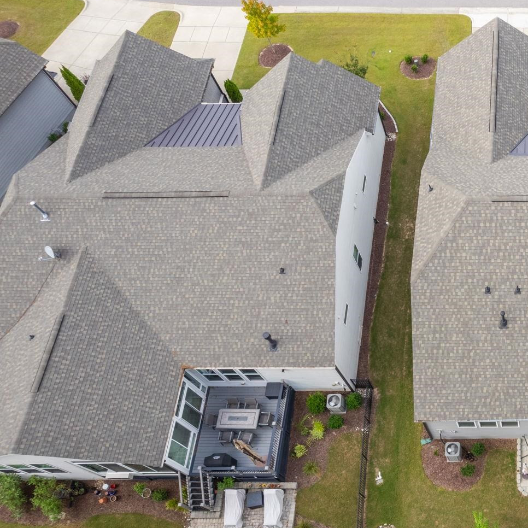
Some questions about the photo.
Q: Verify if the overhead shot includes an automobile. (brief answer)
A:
No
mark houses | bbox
[0,30,389,489]
[409,17,528,446]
